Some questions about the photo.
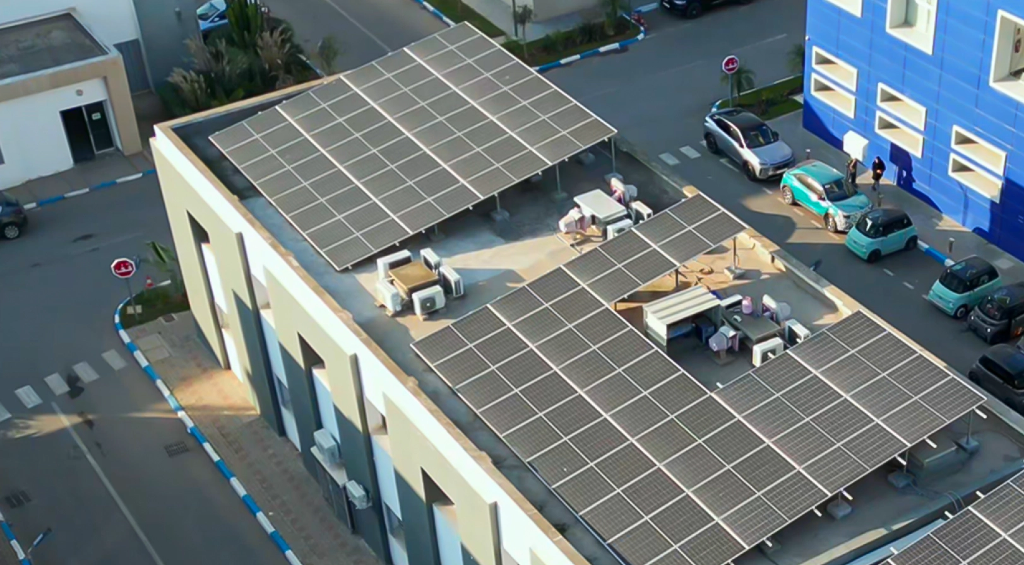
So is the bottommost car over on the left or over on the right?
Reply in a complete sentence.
The bottommost car appears in the right half of the scene.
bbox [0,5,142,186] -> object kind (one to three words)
building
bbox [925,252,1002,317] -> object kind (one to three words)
car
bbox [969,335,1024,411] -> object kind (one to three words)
car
